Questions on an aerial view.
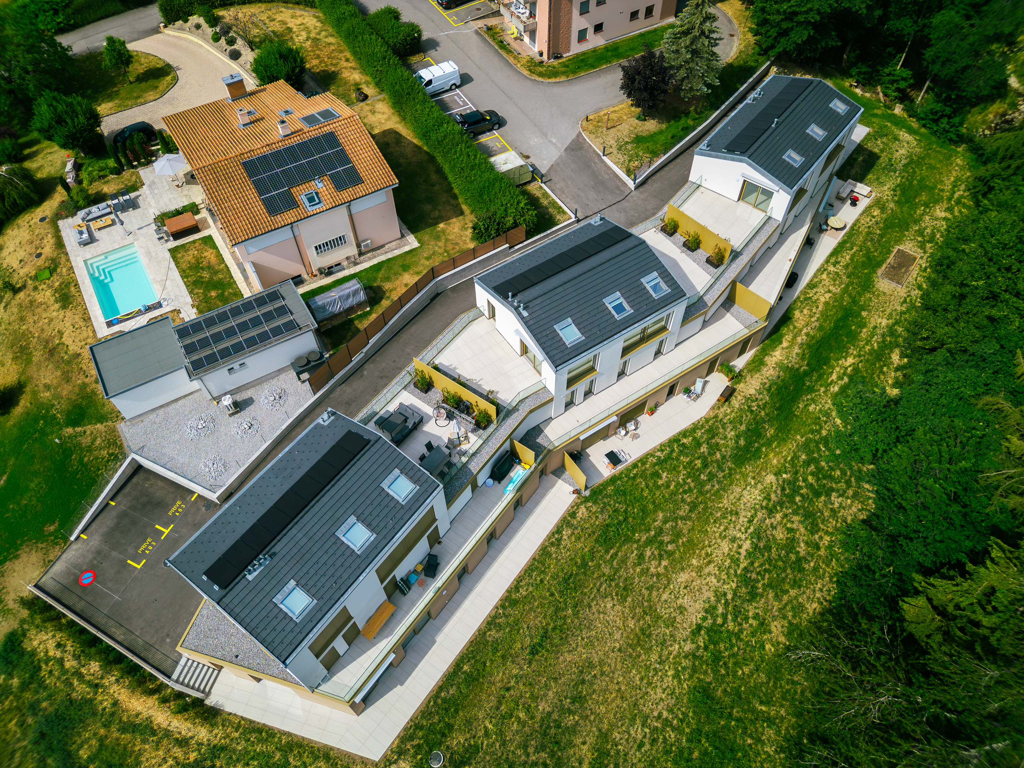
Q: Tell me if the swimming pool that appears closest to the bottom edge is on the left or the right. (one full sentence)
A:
The swimming pool that appears closest to the bottom edge appears in the left half of the scene.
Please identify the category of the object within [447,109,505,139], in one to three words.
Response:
car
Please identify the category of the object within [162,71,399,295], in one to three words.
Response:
house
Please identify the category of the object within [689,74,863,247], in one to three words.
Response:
building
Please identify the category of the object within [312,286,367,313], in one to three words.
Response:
greenhouse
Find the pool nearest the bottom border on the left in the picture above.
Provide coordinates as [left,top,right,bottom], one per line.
[84,243,162,328]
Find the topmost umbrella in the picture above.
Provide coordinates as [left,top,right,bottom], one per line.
[152,156,190,187]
